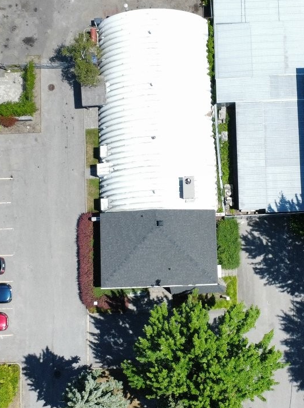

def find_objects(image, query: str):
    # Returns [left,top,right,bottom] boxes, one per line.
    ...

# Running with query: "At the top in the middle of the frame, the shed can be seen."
[82,3,219,212]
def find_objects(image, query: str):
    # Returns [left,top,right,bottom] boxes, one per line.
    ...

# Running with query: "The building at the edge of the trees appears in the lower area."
[92,209,226,295]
